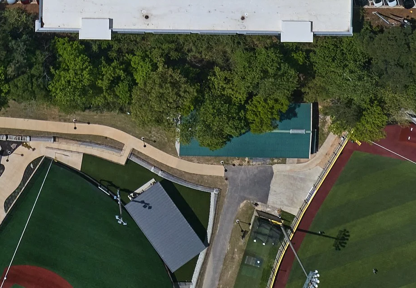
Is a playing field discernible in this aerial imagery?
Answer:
Yes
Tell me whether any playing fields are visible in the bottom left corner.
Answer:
Yes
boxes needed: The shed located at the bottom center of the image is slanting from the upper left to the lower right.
[123,173,209,273]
